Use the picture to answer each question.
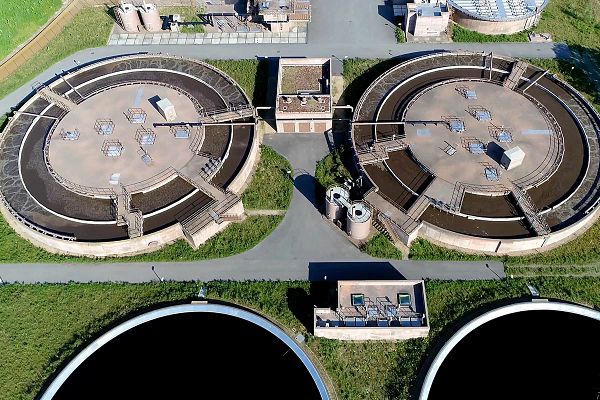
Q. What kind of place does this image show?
industrial area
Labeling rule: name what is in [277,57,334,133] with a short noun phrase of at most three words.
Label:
building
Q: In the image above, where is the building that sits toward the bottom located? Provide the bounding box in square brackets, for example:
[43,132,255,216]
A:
[314,281,430,338]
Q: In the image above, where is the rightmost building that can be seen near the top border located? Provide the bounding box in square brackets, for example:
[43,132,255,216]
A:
[405,0,452,38]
